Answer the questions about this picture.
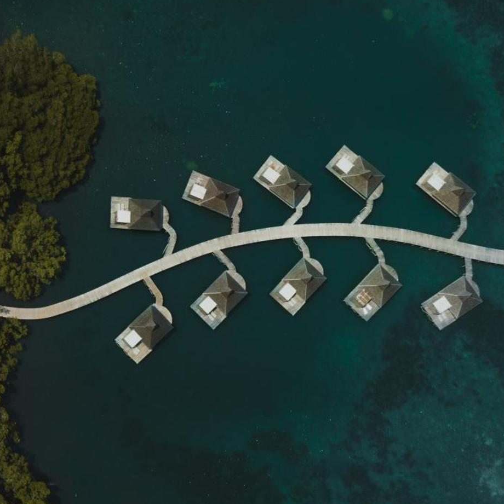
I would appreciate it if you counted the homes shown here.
ten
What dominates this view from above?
water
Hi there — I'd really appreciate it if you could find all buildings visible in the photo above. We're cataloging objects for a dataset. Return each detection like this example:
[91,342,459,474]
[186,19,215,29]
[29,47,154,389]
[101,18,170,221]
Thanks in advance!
[189,270,248,329]
[413,162,477,218]
[181,170,242,218]
[251,154,312,210]
[114,303,174,363]
[419,276,484,330]
[269,256,327,315]
[109,197,171,231]
[323,144,386,201]
[342,262,402,321]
